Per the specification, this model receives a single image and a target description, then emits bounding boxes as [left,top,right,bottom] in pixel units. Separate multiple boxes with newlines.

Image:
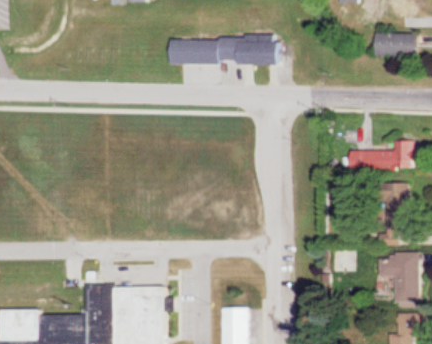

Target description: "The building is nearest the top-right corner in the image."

[374,33,422,58]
